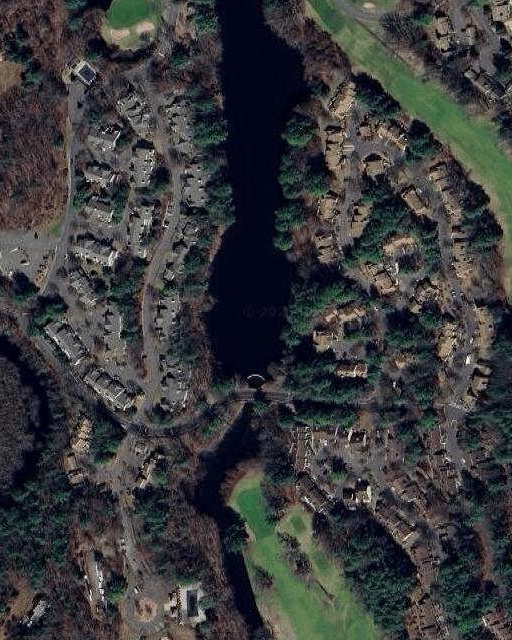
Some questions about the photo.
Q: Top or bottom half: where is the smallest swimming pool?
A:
top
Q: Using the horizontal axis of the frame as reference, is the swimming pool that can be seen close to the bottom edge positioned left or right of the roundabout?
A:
on its right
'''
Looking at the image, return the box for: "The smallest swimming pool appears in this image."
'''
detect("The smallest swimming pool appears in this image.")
[74,62,100,86]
